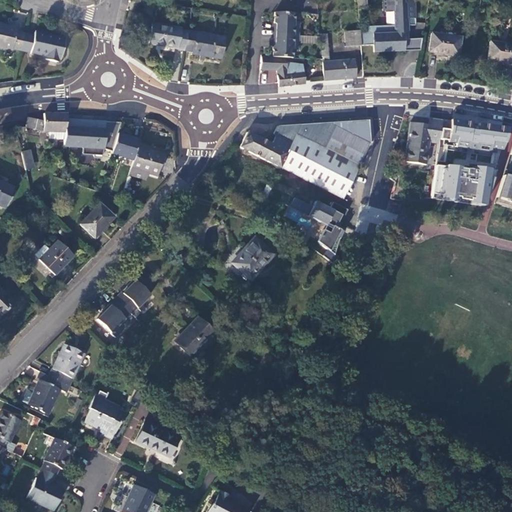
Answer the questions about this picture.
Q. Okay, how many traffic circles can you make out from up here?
2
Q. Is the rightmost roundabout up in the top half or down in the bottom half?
top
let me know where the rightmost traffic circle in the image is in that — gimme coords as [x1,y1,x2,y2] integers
[180,92,237,148]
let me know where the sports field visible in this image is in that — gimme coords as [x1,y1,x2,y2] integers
[344,236,512,466]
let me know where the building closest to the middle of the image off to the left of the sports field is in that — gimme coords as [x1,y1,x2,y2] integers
[232,236,276,281]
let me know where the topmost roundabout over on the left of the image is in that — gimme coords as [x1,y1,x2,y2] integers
[66,35,137,104]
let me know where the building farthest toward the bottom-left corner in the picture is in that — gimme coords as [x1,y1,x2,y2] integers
[30,461,70,511]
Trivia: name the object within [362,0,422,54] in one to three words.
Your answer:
house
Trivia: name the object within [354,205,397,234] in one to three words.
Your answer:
building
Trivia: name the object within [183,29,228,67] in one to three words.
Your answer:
house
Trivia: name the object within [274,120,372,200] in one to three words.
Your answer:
building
